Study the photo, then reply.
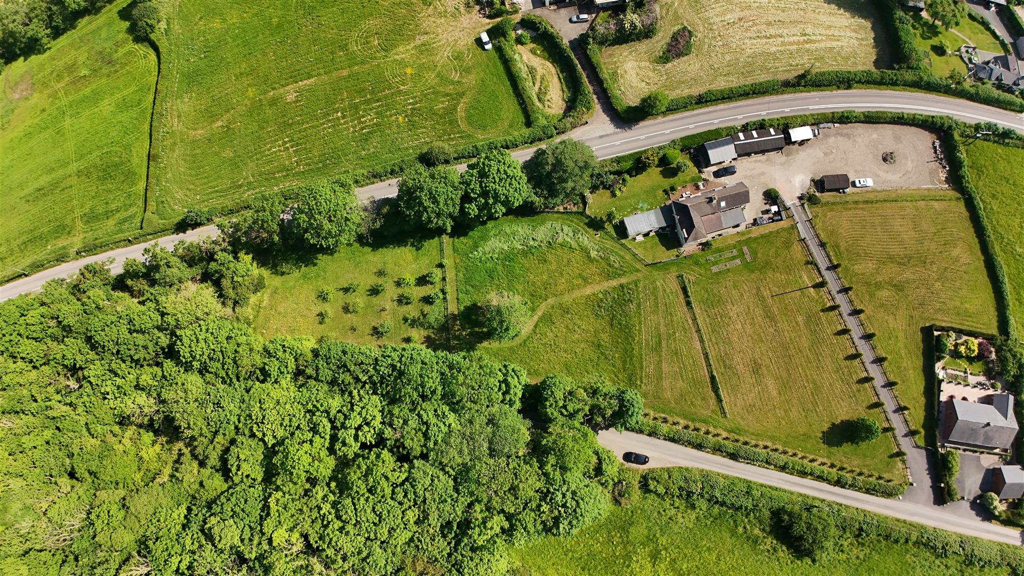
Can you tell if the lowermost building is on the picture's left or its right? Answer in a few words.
right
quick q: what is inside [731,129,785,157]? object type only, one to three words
shed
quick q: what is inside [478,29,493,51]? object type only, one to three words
vehicle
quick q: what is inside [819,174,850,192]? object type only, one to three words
shed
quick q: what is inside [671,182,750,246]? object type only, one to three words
house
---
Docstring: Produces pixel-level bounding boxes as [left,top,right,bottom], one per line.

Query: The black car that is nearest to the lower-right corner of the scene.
[623,450,649,464]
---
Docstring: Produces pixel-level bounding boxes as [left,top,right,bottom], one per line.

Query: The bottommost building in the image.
[993,465,1024,499]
